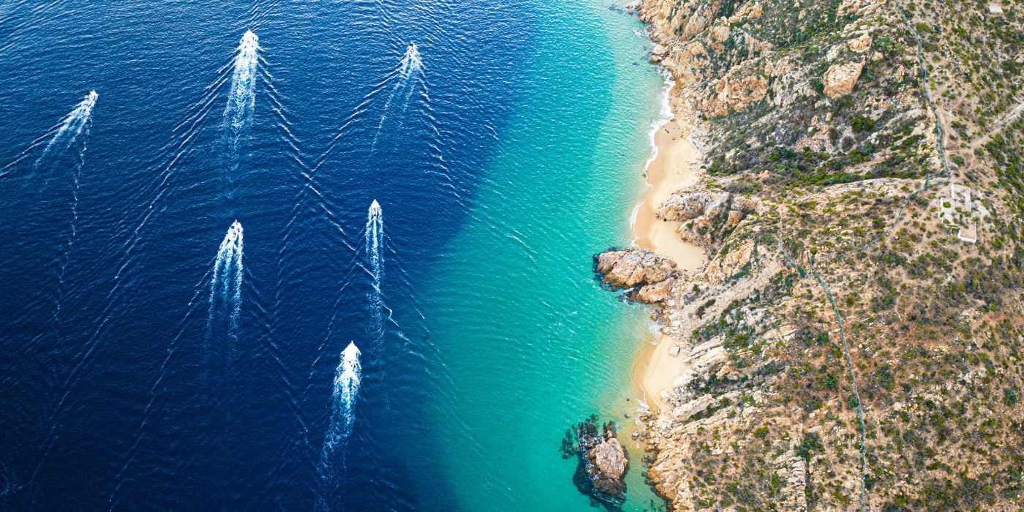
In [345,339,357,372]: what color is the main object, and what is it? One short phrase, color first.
white boat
